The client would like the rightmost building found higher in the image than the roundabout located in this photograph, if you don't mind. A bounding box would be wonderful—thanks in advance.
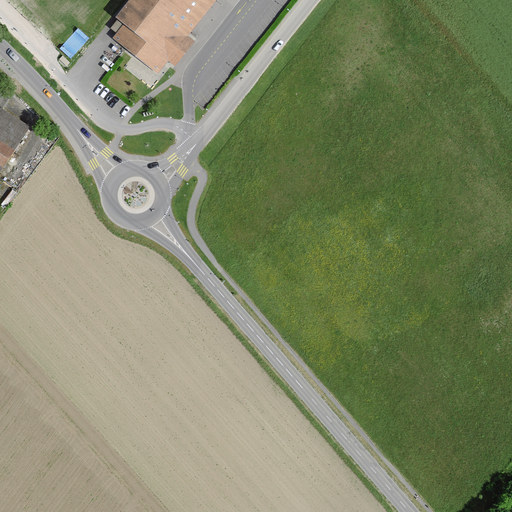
[111,0,217,74]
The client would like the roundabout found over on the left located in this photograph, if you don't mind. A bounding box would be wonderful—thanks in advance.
[101,160,171,230]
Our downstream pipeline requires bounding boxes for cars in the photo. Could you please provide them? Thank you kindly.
[274,40,283,50]
[105,92,114,102]
[120,105,129,116]
[100,88,109,98]
[147,162,159,168]
[95,84,104,94]
[42,89,52,98]
[80,128,91,138]
[112,154,122,164]
[109,96,118,107]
